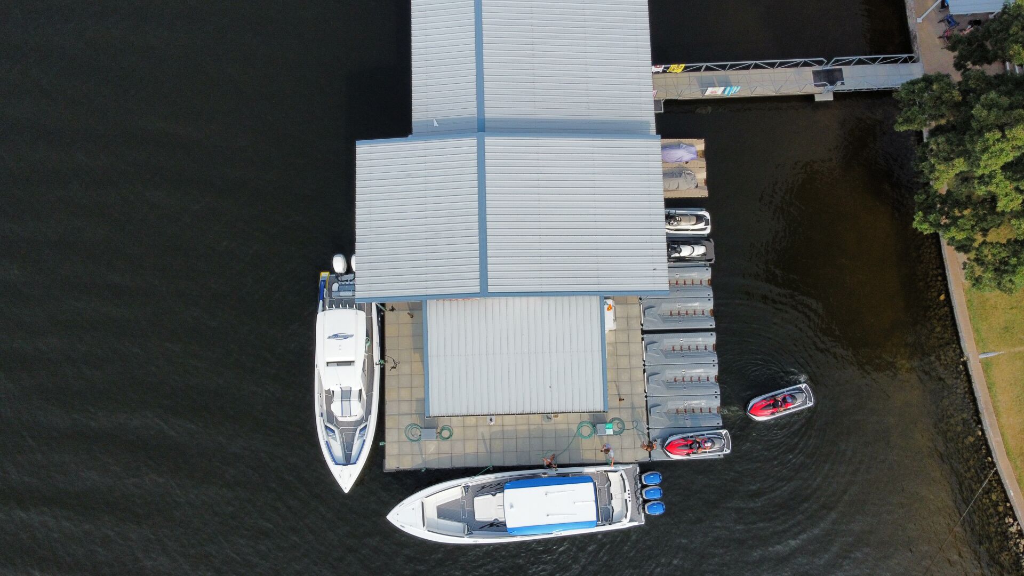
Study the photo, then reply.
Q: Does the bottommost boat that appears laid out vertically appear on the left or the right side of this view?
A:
left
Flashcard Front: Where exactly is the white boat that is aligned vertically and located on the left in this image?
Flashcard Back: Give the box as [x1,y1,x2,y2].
[314,255,380,492]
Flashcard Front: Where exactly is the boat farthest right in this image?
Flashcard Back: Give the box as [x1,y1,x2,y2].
[746,384,813,419]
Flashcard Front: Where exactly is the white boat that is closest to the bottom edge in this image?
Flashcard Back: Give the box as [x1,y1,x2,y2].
[384,464,665,543]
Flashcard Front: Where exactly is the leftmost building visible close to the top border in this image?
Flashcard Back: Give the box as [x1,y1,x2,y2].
[411,0,657,137]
